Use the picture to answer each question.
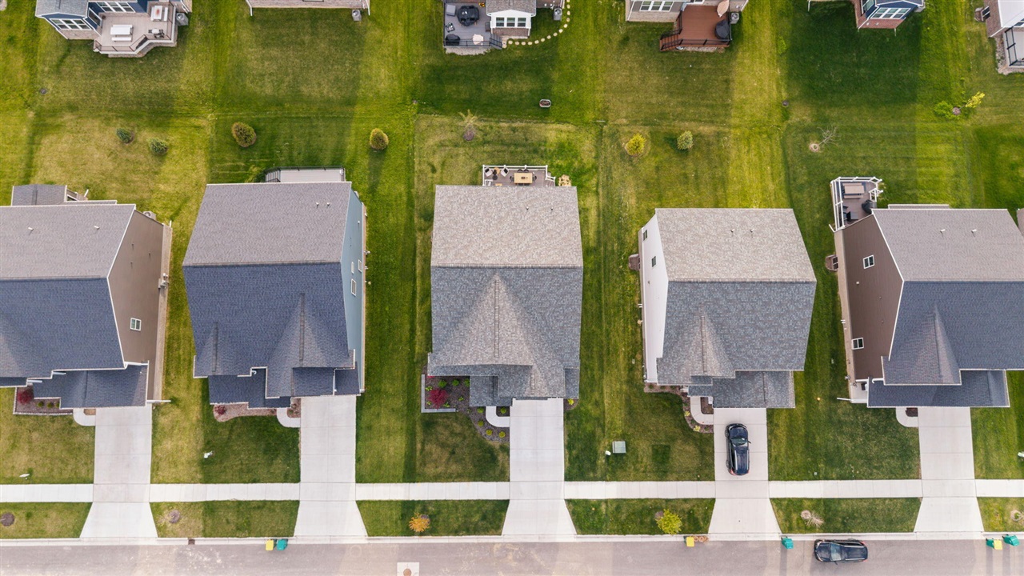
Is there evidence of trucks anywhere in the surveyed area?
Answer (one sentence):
No, there appears to be no truck in this shot.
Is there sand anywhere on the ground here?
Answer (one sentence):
No, there's no sand in this view.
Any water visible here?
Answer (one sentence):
No, the scene doesn't show any water.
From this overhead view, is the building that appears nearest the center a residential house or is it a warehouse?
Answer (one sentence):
In the photo, the building that appears nearest the center shows up as a residential house.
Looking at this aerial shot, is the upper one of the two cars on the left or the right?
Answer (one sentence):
It is on the right.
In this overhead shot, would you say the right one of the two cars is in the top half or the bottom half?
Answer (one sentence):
You can find the right one of the two cars in the bottom half.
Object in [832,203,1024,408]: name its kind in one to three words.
house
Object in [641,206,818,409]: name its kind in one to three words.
house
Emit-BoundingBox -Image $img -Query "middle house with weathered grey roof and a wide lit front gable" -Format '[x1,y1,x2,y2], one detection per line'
[427,184,584,407]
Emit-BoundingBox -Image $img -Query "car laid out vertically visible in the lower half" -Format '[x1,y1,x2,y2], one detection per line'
[724,421,752,478]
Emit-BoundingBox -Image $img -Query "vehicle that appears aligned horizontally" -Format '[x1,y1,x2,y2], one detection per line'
[812,540,872,568]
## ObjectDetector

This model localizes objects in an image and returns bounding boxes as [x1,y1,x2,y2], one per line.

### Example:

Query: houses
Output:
[803,0,924,36]
[35,0,189,40]
[427,184,584,407]
[0,180,175,409]
[179,182,368,409]
[626,0,753,22]
[443,0,564,38]
[247,0,368,16]
[641,206,818,409]
[984,0,1024,35]
[832,203,1024,408]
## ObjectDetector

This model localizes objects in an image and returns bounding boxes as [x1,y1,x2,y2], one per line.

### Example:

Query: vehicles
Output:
[812,540,872,568]
[724,421,752,478]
